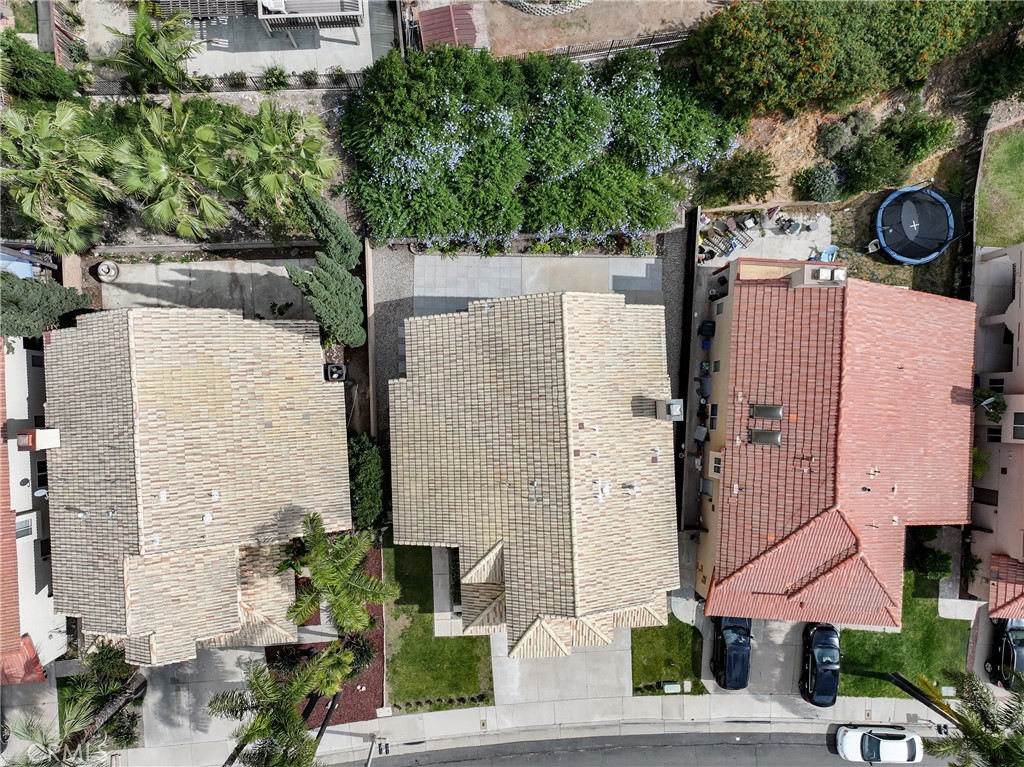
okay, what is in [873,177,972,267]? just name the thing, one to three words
trampoline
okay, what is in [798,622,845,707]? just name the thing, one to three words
car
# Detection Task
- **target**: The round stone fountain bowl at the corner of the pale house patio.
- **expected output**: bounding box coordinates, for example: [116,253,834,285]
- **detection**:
[94,260,117,281]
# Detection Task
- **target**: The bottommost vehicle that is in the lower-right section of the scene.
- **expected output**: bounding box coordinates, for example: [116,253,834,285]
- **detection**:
[833,722,924,767]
